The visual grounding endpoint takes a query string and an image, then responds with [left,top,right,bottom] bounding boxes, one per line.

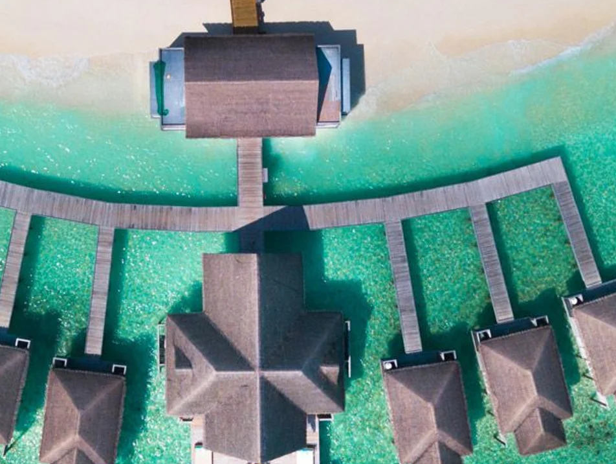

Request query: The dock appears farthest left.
[0,208,33,335]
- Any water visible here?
Yes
